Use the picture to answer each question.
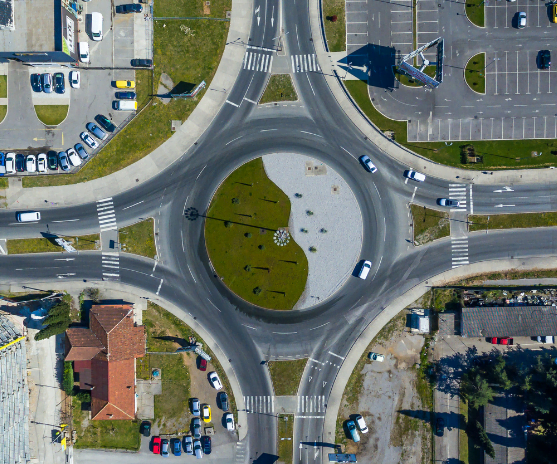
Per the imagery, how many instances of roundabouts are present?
1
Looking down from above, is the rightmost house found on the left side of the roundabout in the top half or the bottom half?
bottom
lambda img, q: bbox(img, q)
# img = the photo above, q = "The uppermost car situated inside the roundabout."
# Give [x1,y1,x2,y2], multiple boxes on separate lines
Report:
[359,154,377,172]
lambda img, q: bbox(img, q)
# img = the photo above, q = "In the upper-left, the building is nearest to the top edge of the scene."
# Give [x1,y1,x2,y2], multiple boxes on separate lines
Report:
[0,0,81,63]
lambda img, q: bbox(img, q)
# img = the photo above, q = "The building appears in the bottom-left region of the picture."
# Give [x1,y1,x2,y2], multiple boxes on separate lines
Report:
[65,304,147,420]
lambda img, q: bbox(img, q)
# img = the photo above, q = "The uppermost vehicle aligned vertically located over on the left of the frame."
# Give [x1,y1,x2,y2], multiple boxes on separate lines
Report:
[90,10,103,42]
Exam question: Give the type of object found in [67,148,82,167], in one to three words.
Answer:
car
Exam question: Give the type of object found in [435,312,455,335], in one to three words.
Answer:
shed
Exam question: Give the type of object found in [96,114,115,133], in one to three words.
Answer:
car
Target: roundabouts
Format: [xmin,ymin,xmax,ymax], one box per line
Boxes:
[158,106,409,358]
